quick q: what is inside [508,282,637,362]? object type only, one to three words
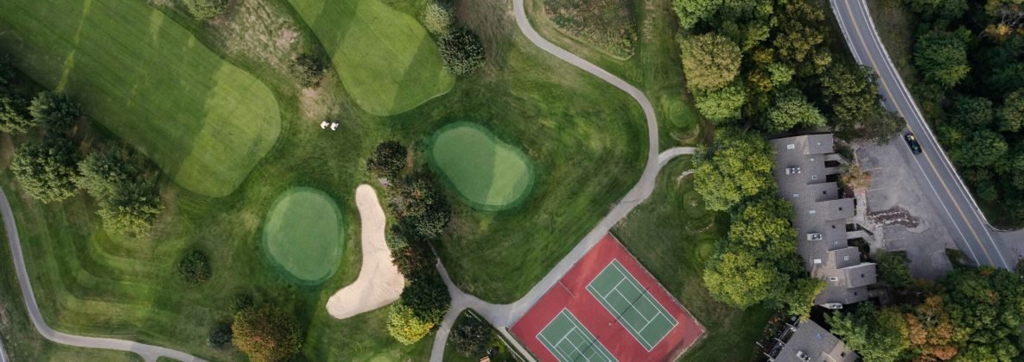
tennis court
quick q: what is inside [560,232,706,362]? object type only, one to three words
tennis court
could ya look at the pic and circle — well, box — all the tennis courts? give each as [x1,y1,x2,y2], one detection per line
[508,282,637,362]
[560,232,706,362]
